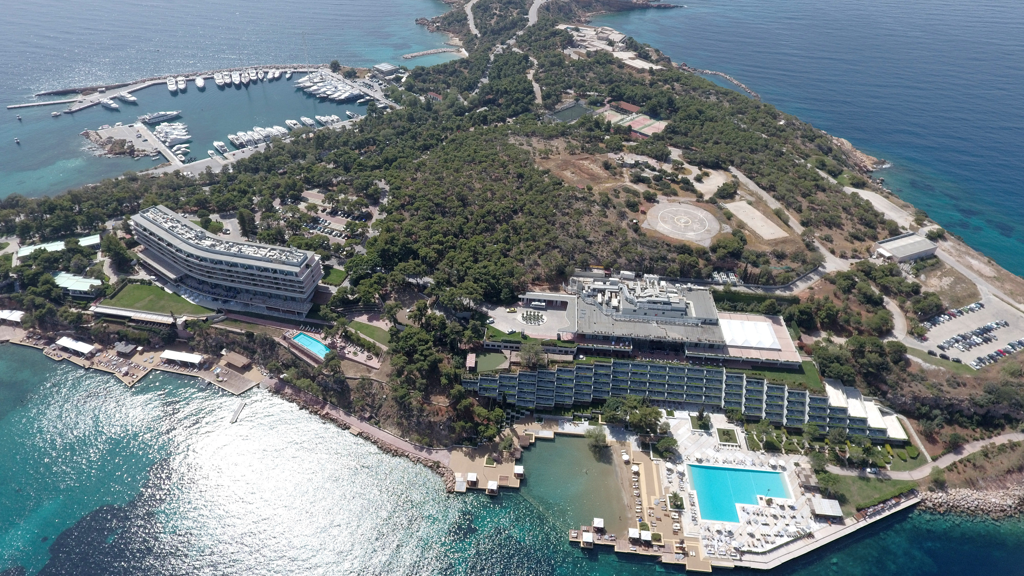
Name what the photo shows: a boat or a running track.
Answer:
boat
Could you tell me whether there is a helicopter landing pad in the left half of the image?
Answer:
No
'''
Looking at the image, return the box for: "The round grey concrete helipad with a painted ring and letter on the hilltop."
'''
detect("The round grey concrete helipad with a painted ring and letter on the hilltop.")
[645,202,722,242]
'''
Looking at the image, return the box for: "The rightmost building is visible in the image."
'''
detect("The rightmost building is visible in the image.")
[874,230,939,267]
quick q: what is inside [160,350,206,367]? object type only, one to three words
tent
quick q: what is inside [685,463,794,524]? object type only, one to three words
swimming pool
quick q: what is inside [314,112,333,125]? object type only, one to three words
boat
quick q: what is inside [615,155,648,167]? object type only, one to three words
house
